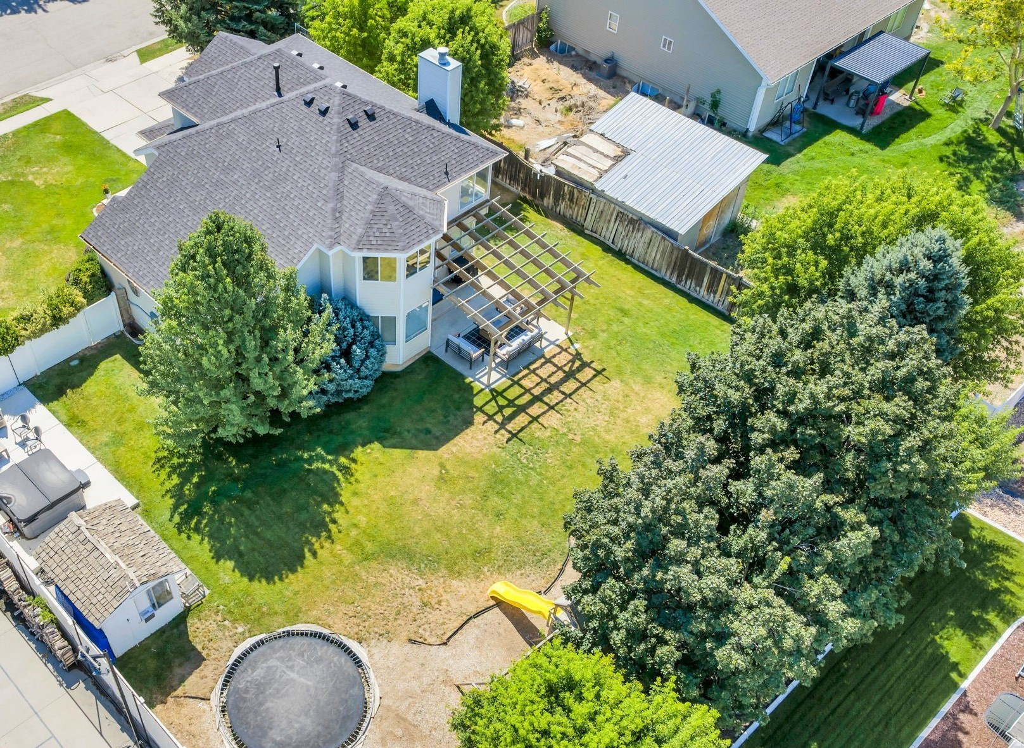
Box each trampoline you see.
[212,627,381,748]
